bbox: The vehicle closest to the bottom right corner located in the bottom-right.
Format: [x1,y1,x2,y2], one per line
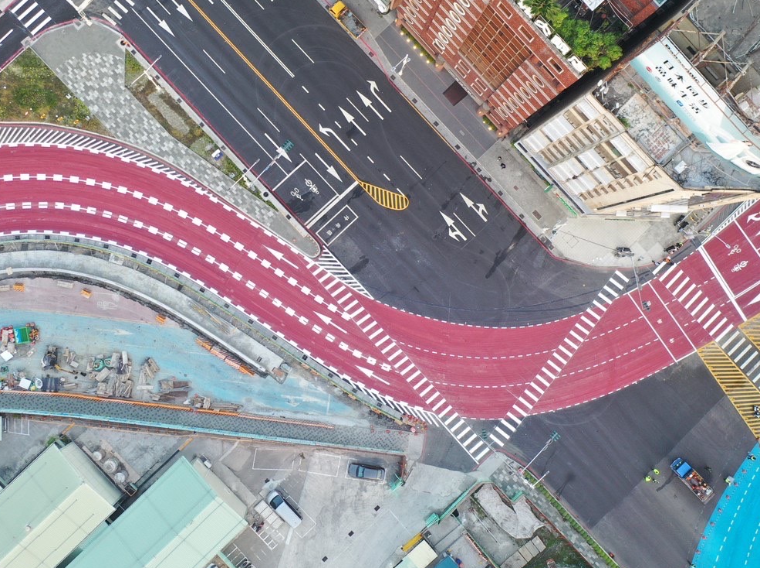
[675,458,716,504]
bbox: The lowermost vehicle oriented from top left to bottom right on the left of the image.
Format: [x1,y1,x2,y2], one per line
[267,490,300,531]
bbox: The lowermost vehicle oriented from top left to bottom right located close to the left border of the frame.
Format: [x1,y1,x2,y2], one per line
[38,350,76,377]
